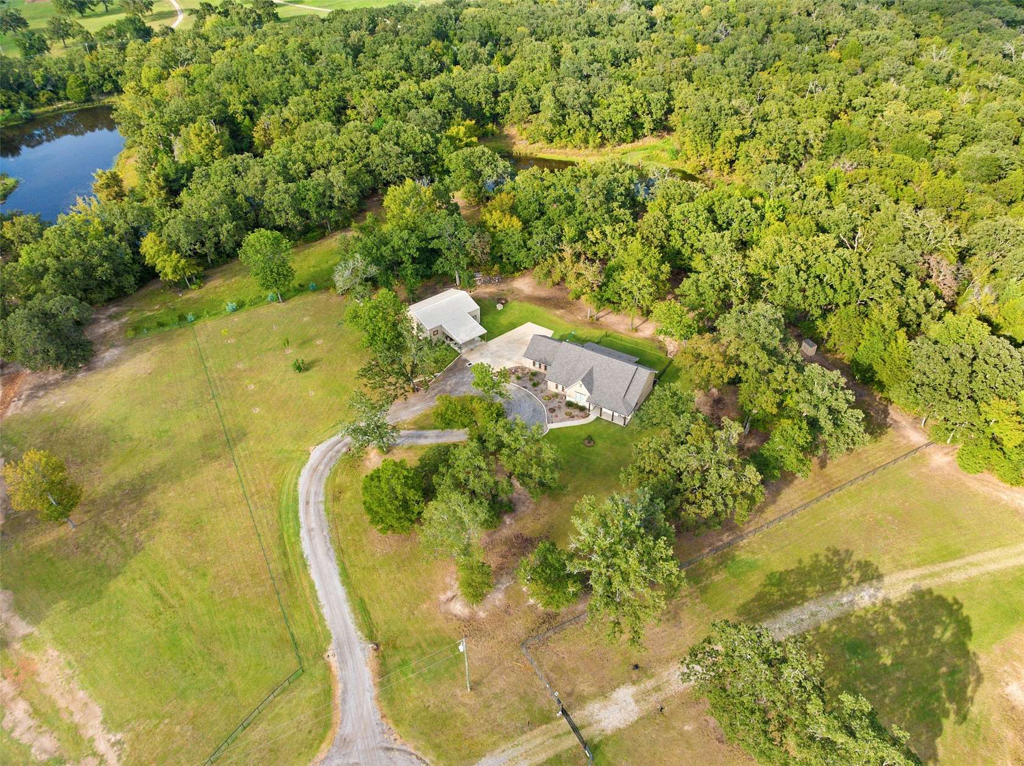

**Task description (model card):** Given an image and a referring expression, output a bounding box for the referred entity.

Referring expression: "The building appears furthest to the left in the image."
[405,287,487,354]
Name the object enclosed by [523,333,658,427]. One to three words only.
house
